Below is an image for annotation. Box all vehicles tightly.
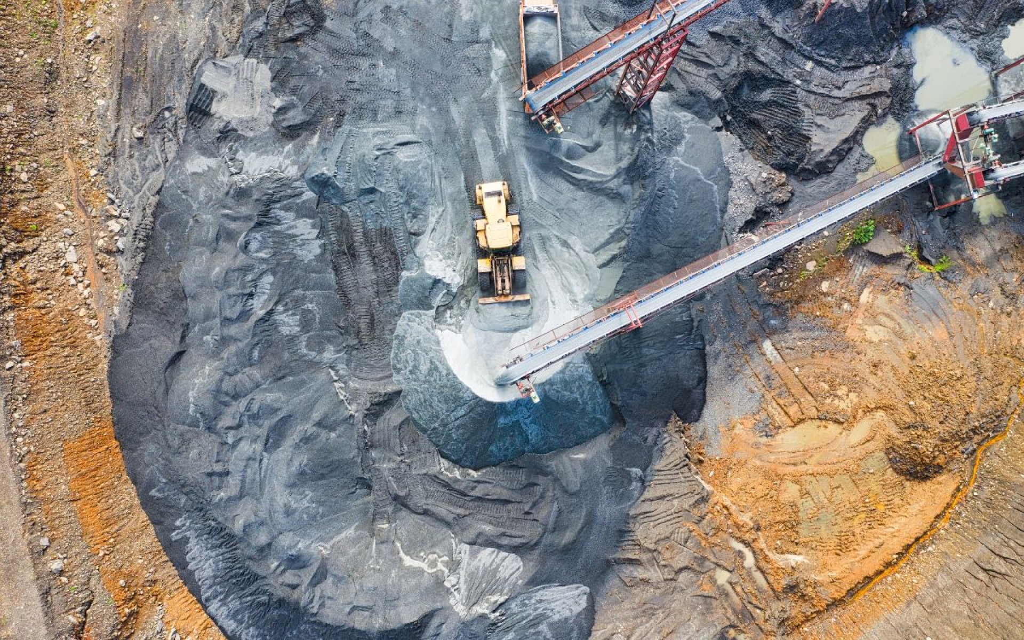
[473,181,531,307]
[516,0,563,104]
